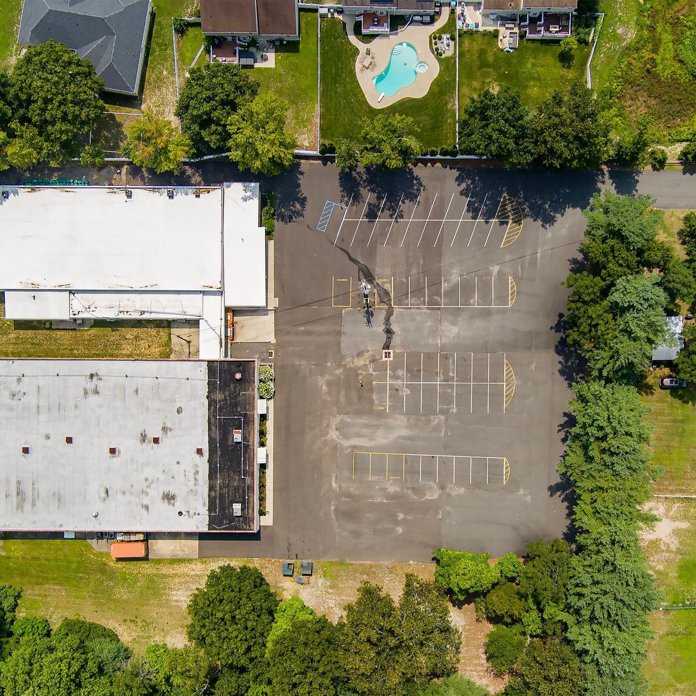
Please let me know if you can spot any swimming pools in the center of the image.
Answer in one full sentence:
No, I see no swimming pool in the center of the image.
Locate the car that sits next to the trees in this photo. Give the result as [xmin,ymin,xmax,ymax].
[660,377,688,389]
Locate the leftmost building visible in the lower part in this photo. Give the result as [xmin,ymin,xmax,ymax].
[0,359,260,533]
